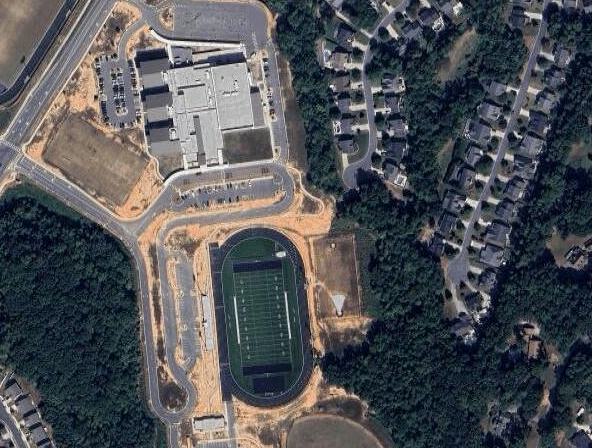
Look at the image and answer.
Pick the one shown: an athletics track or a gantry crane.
athletics track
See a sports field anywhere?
Yes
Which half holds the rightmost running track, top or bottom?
bottom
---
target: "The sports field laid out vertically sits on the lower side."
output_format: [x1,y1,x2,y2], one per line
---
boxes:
[222,237,304,398]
